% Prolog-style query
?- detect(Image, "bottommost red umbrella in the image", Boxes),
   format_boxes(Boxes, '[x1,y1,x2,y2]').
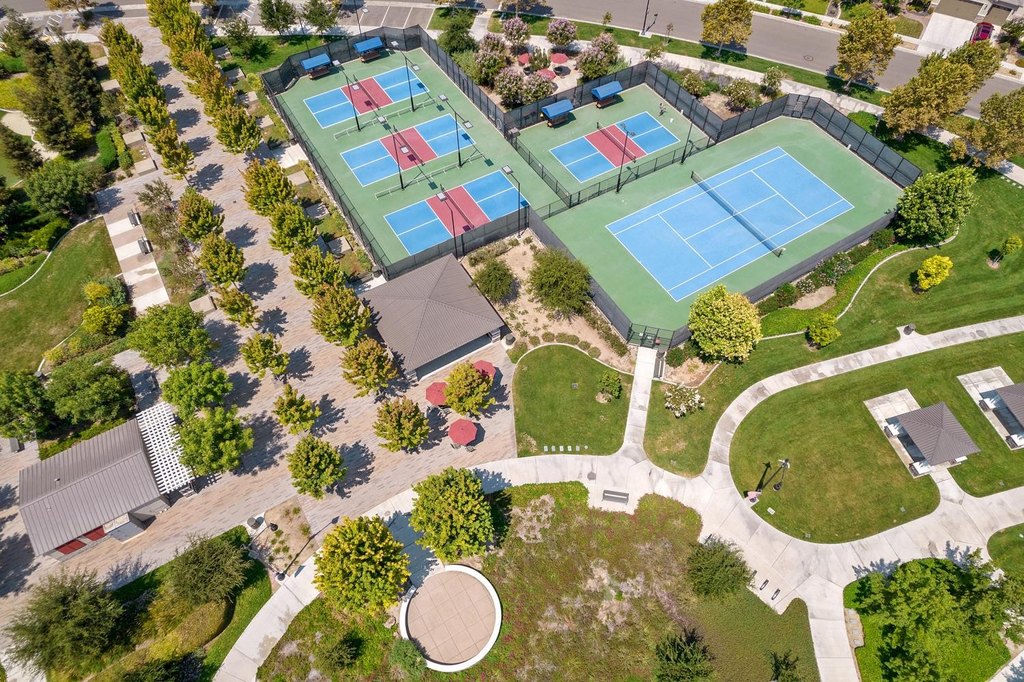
[446,419,480,450]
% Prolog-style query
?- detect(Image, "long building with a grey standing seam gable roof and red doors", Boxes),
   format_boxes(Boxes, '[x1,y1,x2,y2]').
[15,419,174,564]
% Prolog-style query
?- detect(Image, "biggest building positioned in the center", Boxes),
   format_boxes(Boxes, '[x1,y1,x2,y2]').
[359,252,509,400]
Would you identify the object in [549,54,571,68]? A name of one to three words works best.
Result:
umbrella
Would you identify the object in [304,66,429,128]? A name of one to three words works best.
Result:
sports court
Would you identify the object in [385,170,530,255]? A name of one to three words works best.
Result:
sports court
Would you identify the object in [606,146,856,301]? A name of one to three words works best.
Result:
tennis court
